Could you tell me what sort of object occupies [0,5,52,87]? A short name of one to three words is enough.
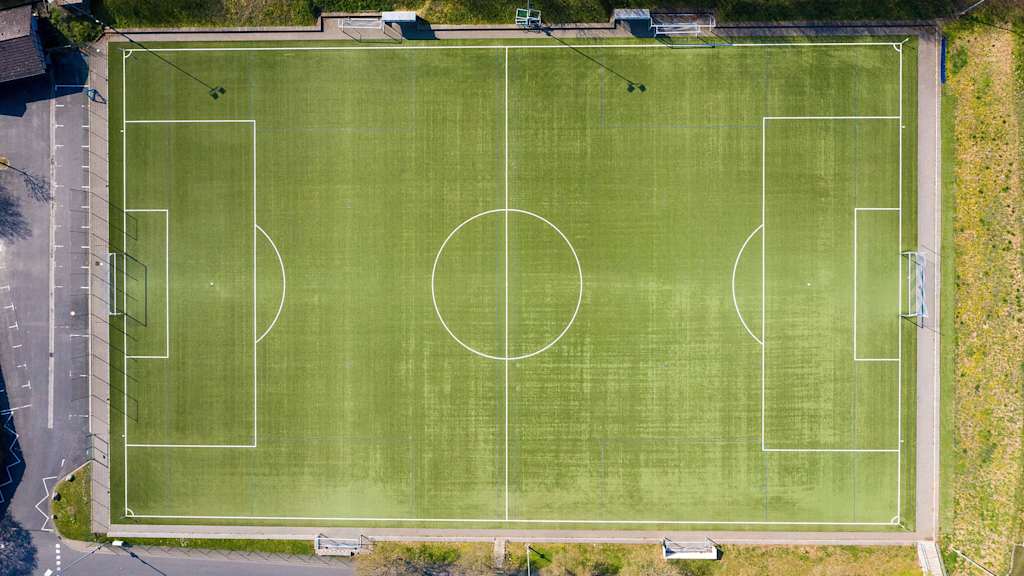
house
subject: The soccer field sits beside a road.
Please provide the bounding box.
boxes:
[109,36,918,532]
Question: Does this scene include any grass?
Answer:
Yes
